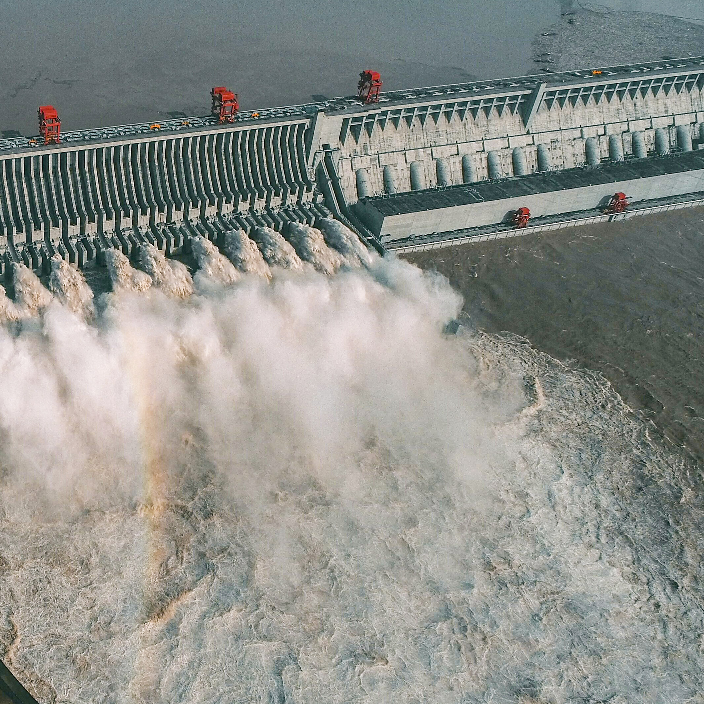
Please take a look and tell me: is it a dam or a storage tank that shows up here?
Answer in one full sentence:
Of the two, only a dam appears.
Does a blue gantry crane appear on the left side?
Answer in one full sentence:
No, there is no blue gantry crane on the left side.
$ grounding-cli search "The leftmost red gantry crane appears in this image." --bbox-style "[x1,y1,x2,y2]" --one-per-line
[39,103,61,143]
